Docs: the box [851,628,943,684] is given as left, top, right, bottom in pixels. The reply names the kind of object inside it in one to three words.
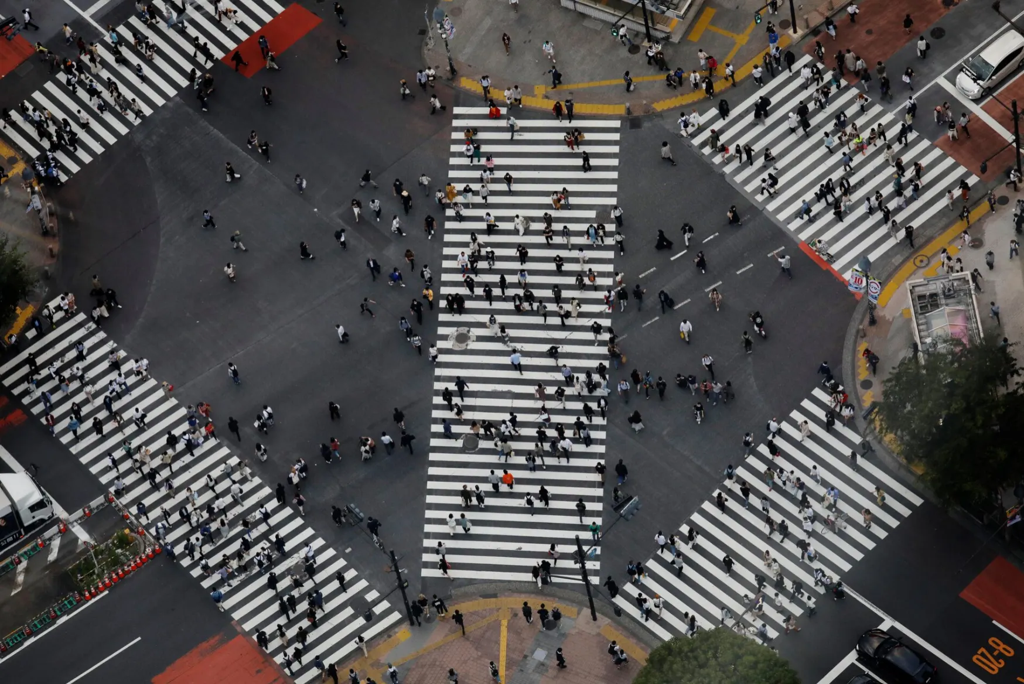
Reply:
car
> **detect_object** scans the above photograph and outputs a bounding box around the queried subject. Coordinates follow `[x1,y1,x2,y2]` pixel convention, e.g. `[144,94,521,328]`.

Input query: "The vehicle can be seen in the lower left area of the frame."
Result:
[0,465,53,548]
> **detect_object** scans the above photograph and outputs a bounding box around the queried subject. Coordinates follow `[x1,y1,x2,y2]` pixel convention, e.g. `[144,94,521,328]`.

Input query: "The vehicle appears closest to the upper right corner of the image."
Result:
[954,30,1024,99]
